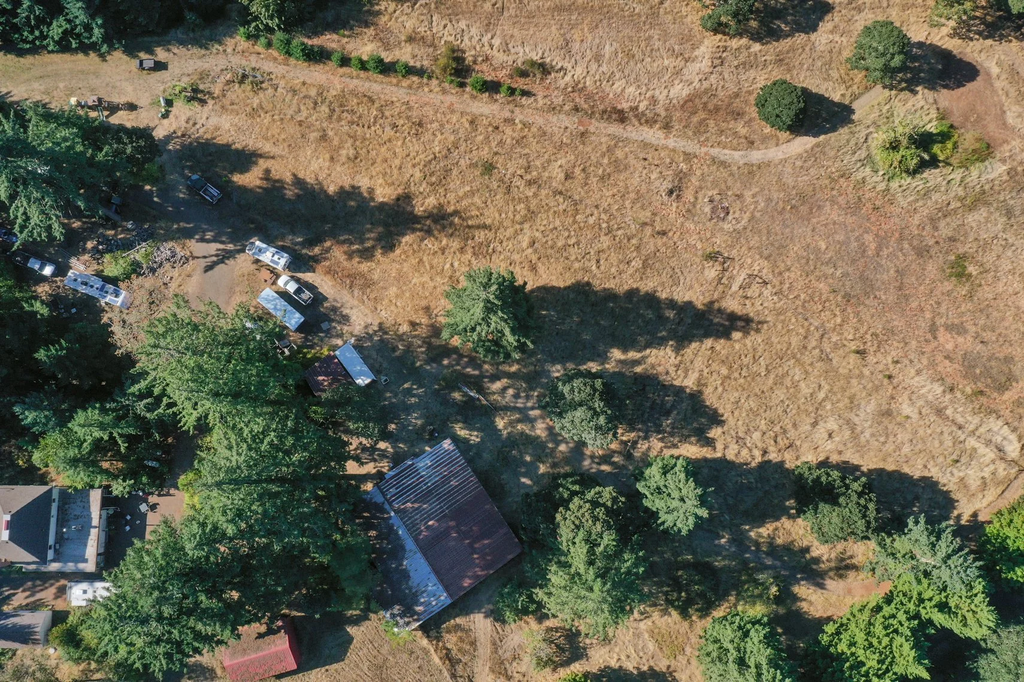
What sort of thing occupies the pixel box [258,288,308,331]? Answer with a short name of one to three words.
trailer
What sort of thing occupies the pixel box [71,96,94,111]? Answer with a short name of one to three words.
work vehicle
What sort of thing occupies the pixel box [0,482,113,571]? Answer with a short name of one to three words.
house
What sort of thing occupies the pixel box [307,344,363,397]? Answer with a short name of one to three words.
building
